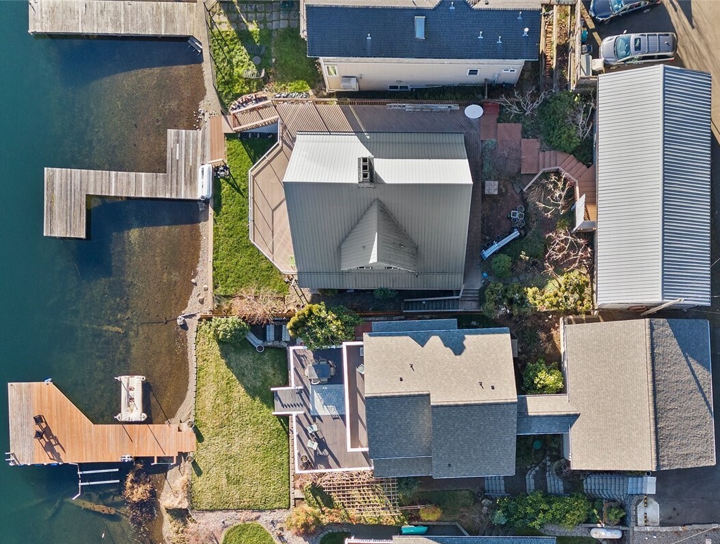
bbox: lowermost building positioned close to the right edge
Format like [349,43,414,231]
[563,318,717,472]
